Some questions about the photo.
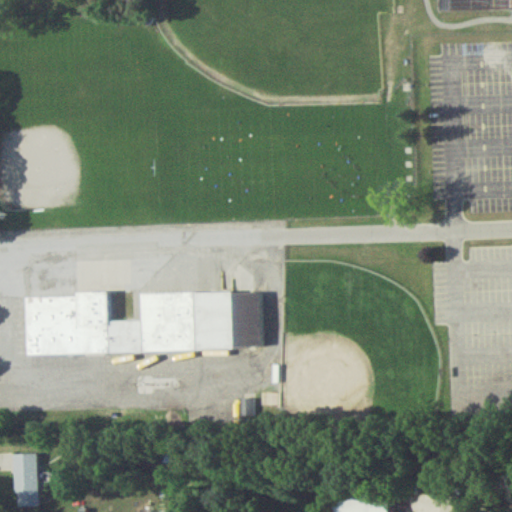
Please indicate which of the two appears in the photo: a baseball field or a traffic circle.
baseball field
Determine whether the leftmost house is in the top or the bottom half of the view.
bottom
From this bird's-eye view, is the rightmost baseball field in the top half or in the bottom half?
bottom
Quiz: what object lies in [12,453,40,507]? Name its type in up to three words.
house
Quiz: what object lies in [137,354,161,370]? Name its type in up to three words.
vehicle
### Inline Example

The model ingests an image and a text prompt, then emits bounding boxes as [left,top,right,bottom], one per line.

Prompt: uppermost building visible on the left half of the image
[25,292,266,356]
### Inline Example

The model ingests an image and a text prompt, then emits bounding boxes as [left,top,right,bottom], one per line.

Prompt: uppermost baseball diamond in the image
[151,0,392,106]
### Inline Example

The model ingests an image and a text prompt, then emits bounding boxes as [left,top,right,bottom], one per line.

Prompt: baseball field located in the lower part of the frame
[282,259,442,420]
